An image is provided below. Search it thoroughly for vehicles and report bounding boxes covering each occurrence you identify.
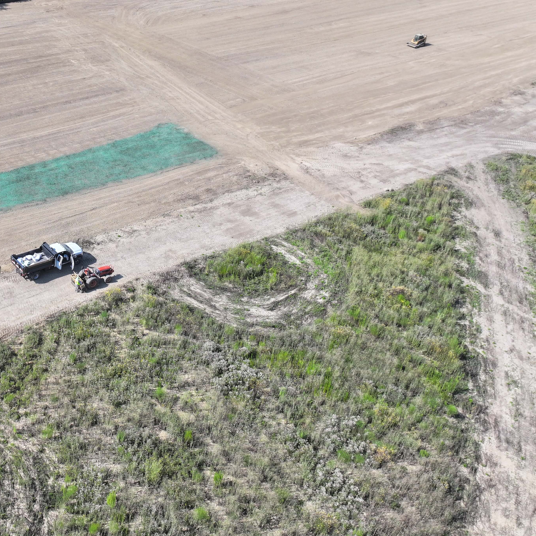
[78,265,112,291]
[9,240,87,282]
[406,31,433,48]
